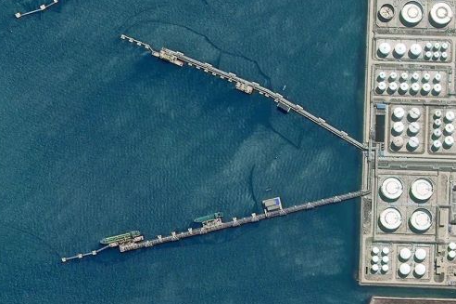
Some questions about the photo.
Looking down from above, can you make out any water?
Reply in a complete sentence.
Yes, the picture does contain water.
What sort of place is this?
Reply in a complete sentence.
This looks like an industrial area.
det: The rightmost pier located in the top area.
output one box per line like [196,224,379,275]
[163,48,369,150]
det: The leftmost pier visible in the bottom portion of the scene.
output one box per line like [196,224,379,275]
[120,190,370,252]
